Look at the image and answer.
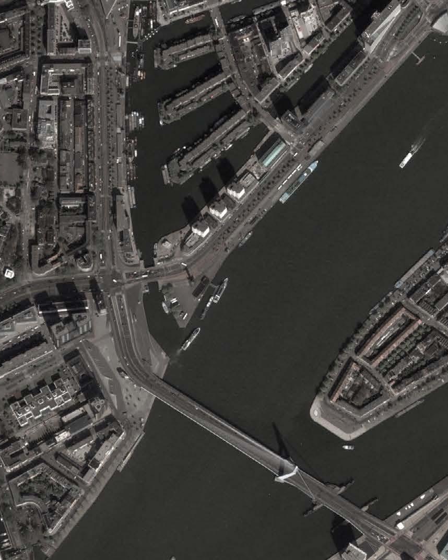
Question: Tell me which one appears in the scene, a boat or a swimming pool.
boat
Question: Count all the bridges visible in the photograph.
1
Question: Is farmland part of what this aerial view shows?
No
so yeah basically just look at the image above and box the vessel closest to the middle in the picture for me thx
[213,278,228,303]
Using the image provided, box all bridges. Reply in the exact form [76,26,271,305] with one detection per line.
[109,289,398,546]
